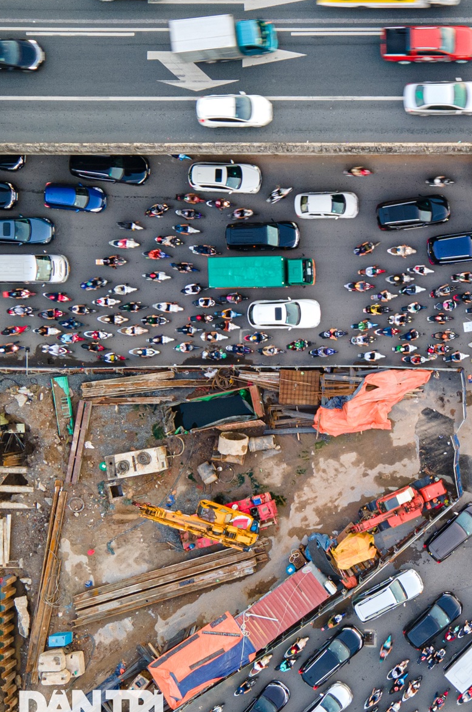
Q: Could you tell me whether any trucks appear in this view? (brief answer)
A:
Yes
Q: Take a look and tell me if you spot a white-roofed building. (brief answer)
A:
No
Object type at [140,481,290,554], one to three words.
crane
